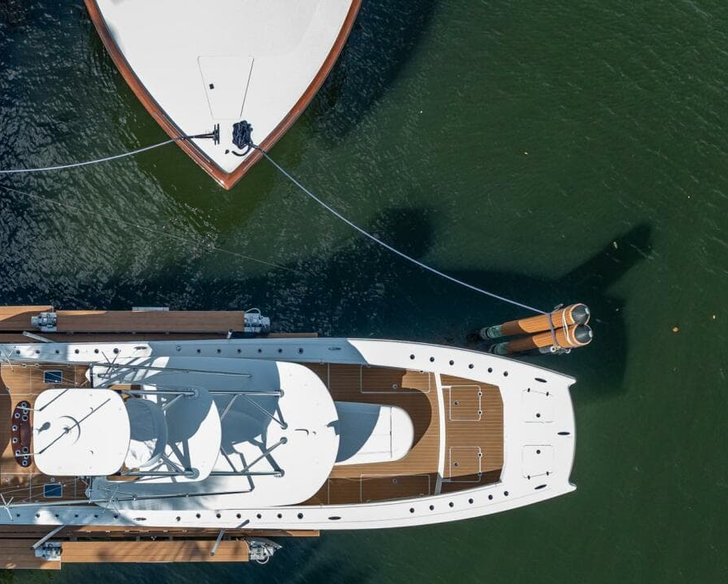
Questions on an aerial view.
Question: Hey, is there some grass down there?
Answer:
No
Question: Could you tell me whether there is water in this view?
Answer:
Yes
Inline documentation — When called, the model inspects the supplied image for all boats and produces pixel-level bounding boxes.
[0,337,575,530]
[85,0,361,190]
